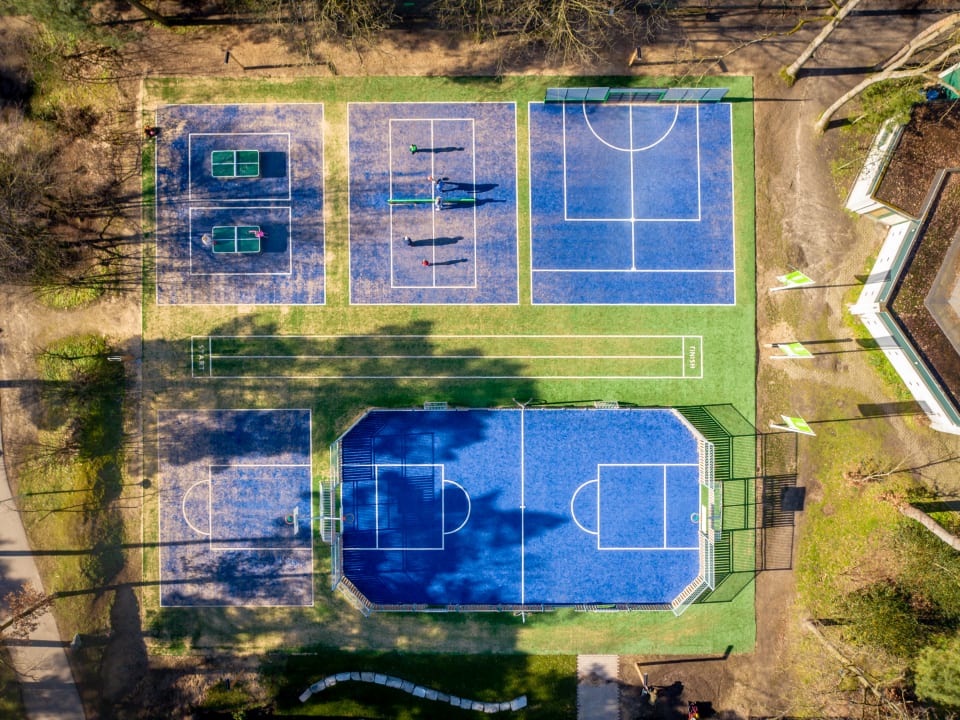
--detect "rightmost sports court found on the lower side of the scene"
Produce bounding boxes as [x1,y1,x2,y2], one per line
[332,407,712,609]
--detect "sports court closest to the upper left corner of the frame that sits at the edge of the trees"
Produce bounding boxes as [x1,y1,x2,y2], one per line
[156,102,326,305]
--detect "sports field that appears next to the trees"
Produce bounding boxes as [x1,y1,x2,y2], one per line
[142,76,757,655]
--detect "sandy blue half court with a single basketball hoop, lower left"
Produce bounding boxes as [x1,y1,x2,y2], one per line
[158,409,314,608]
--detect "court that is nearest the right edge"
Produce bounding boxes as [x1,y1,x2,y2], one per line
[530,102,736,305]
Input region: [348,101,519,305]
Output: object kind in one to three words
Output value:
sports court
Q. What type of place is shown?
sports ground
